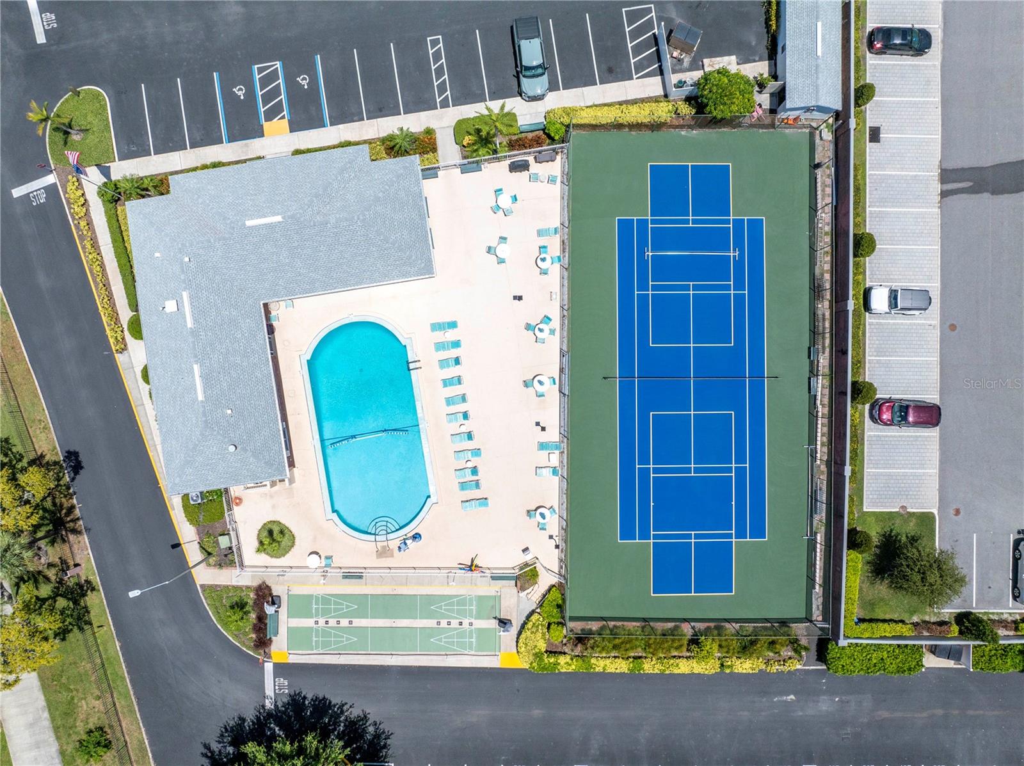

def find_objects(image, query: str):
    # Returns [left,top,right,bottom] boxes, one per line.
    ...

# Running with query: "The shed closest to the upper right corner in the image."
[777,0,842,120]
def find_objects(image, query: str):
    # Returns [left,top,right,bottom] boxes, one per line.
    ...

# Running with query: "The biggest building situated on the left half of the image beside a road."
[125,144,438,495]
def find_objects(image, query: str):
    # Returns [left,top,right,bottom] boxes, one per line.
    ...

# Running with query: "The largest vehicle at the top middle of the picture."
[515,17,550,103]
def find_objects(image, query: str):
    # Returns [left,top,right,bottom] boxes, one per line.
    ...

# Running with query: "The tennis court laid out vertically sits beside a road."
[568,129,817,623]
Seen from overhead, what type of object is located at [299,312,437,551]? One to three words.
swimming pool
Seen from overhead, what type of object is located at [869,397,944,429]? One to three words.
car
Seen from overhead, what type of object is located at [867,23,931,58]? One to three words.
car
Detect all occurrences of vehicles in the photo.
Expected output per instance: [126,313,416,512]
[515,17,550,103]
[1015,541,1024,604]
[867,283,935,315]
[869,397,944,429]
[867,23,931,58]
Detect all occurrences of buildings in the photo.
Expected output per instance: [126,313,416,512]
[777,0,842,120]
[125,144,438,495]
